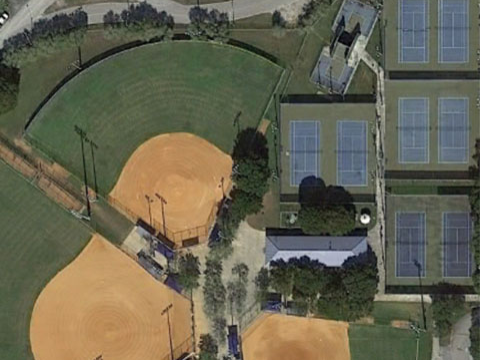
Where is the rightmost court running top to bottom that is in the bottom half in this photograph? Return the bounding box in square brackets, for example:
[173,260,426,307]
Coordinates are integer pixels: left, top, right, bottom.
[434,195,476,293]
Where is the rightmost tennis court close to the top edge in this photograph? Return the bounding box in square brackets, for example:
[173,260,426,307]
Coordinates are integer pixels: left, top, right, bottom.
[434,0,480,79]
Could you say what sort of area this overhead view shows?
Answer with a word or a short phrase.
sports ground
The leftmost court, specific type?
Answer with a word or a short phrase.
tennis court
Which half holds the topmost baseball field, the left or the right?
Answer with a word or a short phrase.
left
